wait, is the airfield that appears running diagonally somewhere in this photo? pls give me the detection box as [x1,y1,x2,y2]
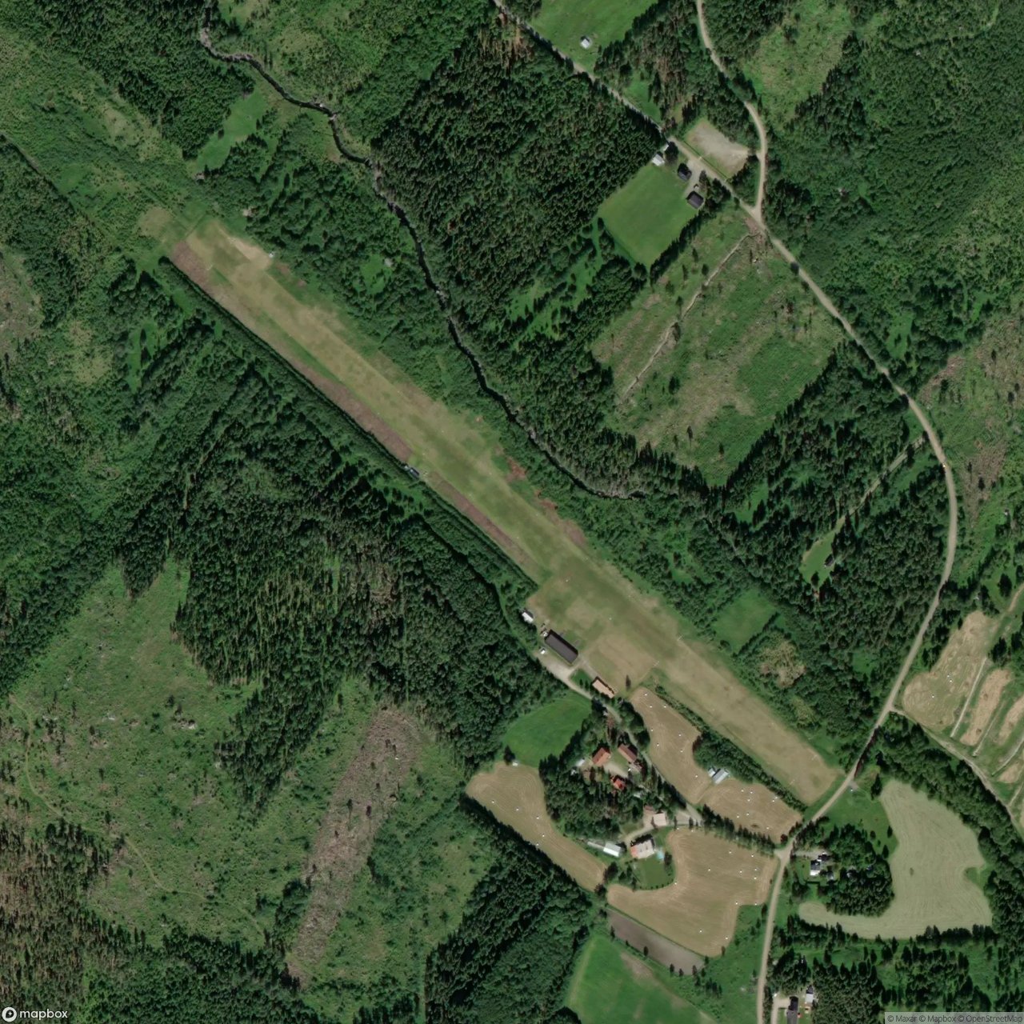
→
[170,217,840,805]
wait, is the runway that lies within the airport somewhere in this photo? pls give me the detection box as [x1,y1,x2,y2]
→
[192,227,824,788]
